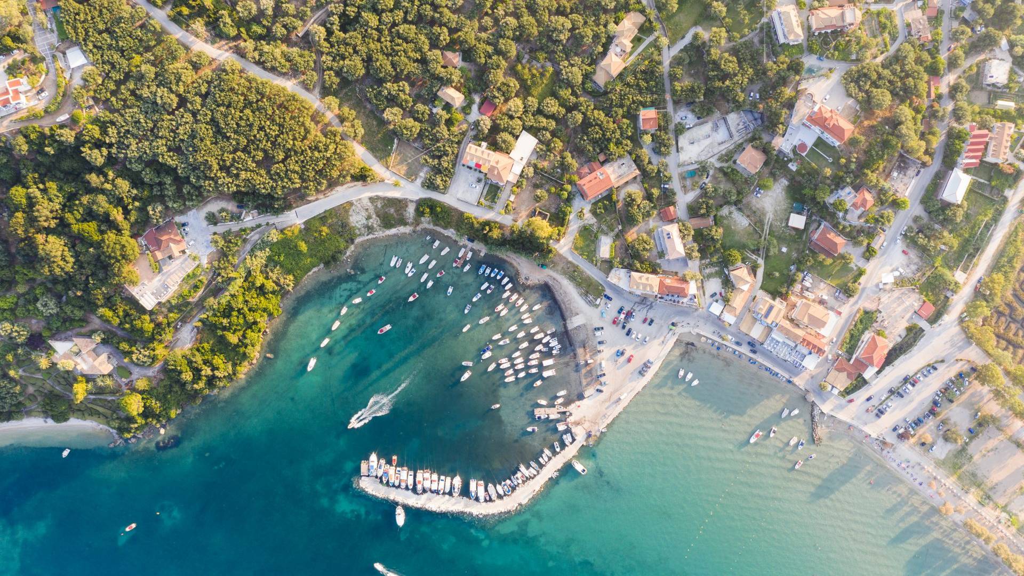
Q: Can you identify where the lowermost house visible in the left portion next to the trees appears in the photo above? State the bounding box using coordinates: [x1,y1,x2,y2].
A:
[49,338,118,375]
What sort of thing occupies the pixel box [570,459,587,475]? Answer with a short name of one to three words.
boat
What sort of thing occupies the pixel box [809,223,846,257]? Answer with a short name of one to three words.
house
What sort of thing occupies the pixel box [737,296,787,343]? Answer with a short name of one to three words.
building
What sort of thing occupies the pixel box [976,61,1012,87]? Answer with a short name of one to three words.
house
